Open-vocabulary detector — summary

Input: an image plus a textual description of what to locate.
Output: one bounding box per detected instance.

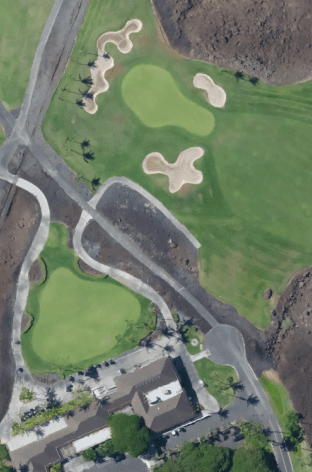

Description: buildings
[7,358,198,472]
[63,456,95,472]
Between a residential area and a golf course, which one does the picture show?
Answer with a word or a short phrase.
golf course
